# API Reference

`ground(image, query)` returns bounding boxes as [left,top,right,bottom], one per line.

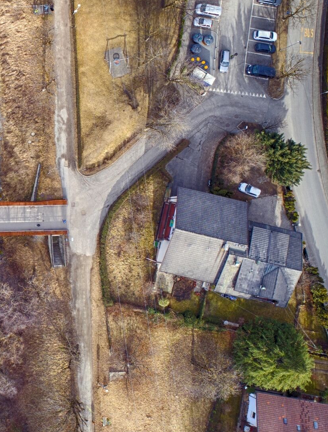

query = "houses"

[147,187,303,307]
[243,387,328,432]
